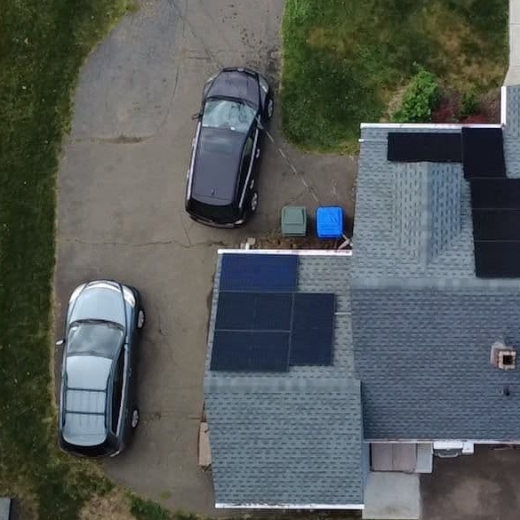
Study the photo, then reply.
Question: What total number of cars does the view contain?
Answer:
2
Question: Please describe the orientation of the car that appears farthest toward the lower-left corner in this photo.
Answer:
vertically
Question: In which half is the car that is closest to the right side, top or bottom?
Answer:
top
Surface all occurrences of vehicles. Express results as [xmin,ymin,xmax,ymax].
[181,64,272,230]
[53,280,146,461]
